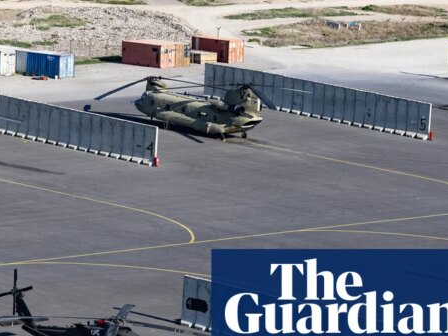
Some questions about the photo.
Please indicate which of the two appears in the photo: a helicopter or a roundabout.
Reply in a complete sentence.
This aerial view contains a helicopter.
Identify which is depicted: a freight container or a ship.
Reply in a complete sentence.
The one in the frame is a freight container.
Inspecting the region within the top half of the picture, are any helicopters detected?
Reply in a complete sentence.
Yes, I can see a helicopter within the top half of the picture.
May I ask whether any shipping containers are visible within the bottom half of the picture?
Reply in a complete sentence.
No, the scene shows no shipping container within the bottom half of the picture.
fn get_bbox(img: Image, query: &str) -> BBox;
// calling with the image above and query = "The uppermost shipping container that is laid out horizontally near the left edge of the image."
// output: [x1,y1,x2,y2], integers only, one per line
[15,46,75,77]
